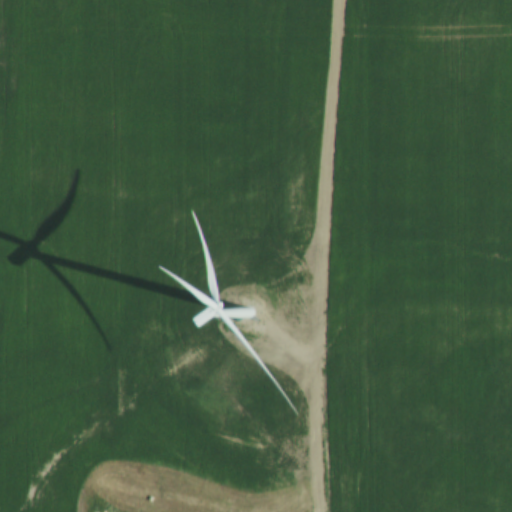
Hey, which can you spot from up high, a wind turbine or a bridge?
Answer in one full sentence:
Looking from above, you can make out a wind turbine.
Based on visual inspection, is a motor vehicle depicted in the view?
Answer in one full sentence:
No, there is no motor vehicle in the image.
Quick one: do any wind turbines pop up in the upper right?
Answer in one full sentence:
No, there is no wind turbine in the upper right.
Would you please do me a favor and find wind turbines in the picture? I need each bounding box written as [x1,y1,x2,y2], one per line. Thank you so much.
[160,210,298,414]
